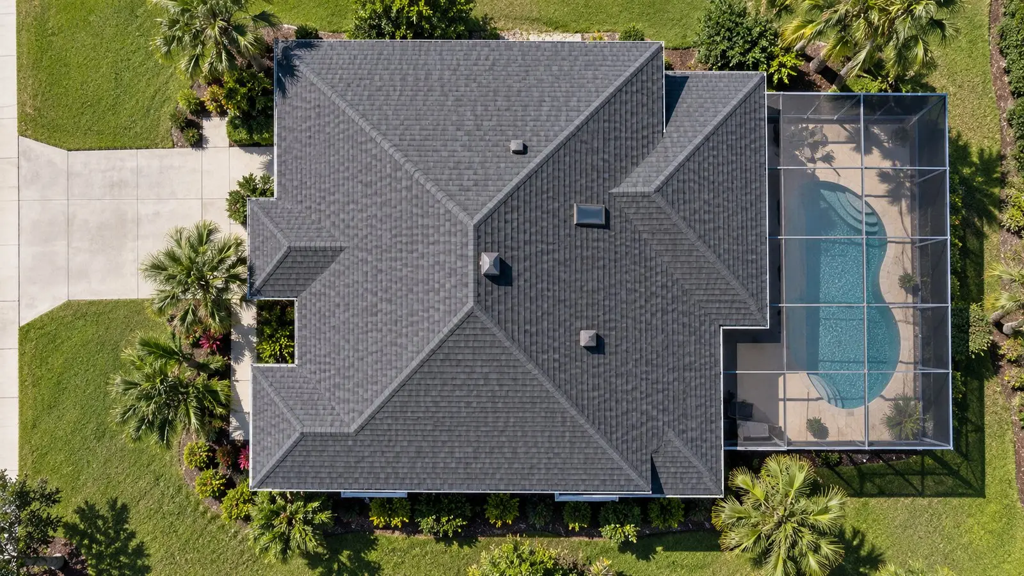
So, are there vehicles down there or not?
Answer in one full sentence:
No, no vehicle is visible in the scene.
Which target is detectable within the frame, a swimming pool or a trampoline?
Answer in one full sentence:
The one in the frame is a swimming pool.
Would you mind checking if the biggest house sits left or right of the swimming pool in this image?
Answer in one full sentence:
It is on the left side of the swimming pool that the biggest house is positioned.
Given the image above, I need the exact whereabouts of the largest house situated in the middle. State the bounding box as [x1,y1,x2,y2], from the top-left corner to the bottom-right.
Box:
[245,38,771,503]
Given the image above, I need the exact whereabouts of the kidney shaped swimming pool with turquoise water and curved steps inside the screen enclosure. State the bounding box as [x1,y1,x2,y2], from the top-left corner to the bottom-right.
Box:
[776,173,908,416]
